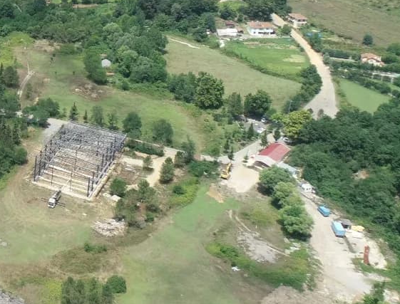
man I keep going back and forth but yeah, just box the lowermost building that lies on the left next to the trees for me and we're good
[30,117,133,200]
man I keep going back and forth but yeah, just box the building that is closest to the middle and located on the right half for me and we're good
[244,141,283,169]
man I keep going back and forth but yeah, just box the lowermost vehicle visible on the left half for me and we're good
[40,185,67,204]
